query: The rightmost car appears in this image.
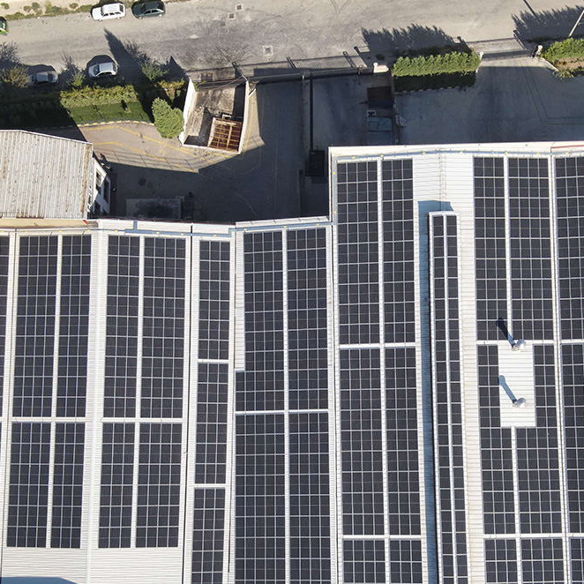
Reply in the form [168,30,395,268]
[134,0,166,19]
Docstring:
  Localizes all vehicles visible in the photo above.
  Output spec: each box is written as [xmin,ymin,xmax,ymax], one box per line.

[134,0,166,19]
[92,3,126,21]
[0,18,10,36]
[88,59,119,78]
[28,69,60,88]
